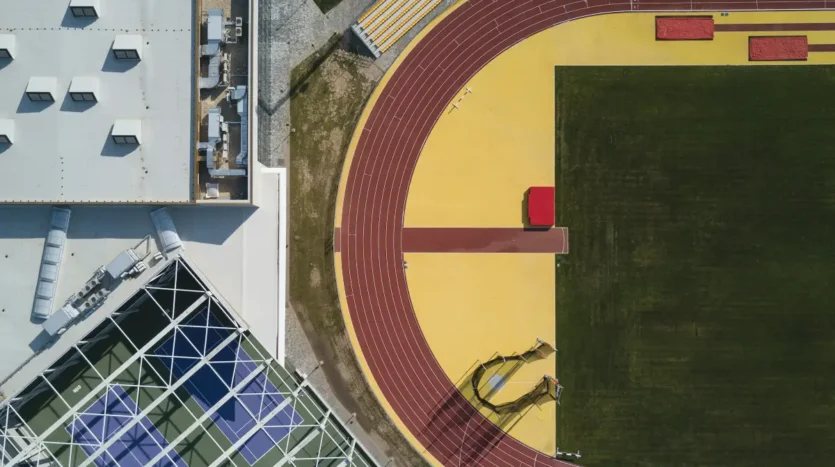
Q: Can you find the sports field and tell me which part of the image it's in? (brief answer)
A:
right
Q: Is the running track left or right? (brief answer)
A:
right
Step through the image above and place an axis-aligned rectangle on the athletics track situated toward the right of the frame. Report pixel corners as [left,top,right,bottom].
[333,0,835,467]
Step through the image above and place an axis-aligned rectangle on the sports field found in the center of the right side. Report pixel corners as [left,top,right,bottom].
[554,64,835,467]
